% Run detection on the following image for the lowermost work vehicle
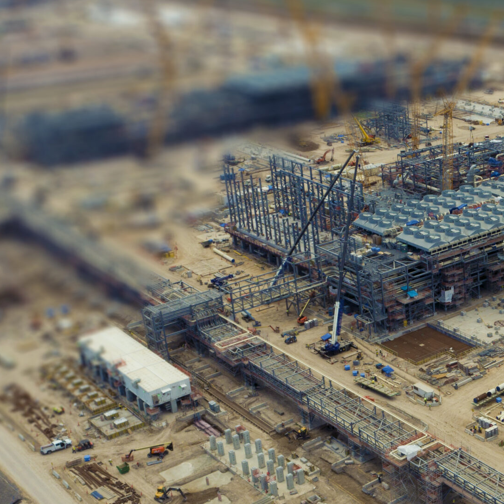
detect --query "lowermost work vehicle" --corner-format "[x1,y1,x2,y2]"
[152,480,196,502]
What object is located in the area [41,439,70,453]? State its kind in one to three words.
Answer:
vehicle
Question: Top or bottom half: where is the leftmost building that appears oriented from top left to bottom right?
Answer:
bottom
